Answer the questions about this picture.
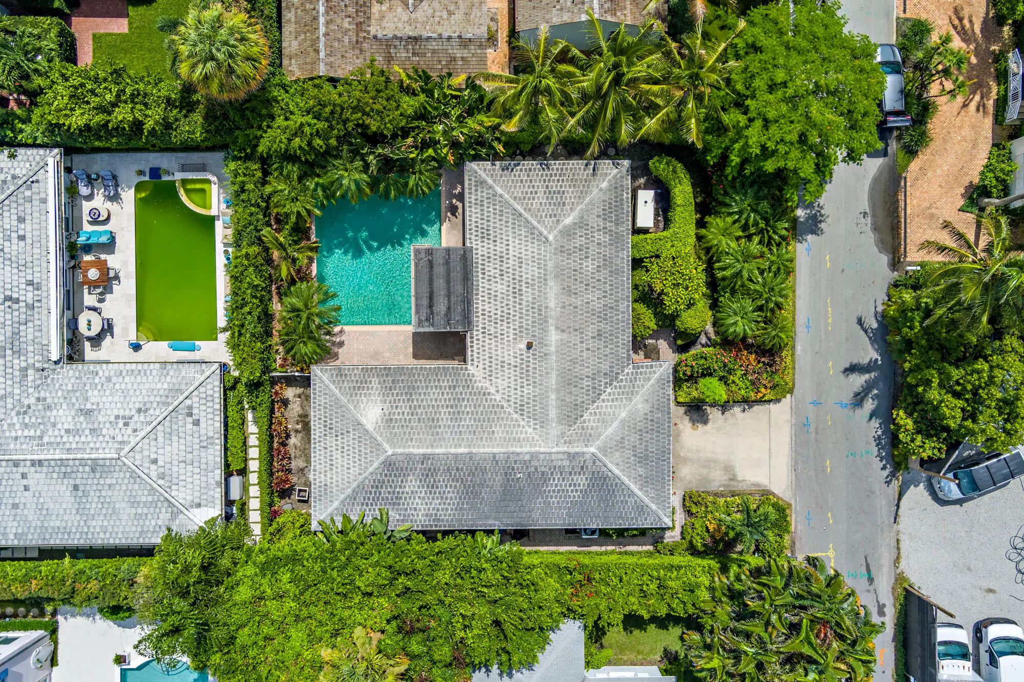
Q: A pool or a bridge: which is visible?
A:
pool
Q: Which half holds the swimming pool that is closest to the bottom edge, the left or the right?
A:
left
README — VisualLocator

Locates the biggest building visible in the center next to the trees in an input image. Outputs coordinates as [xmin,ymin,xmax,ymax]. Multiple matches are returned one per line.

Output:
[309,159,673,530]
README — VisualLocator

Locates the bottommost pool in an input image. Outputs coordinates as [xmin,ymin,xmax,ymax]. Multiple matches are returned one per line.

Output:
[121,660,208,682]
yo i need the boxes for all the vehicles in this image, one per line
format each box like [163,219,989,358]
[980,617,1024,682]
[927,454,1021,507]
[937,618,974,682]
[863,44,906,128]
